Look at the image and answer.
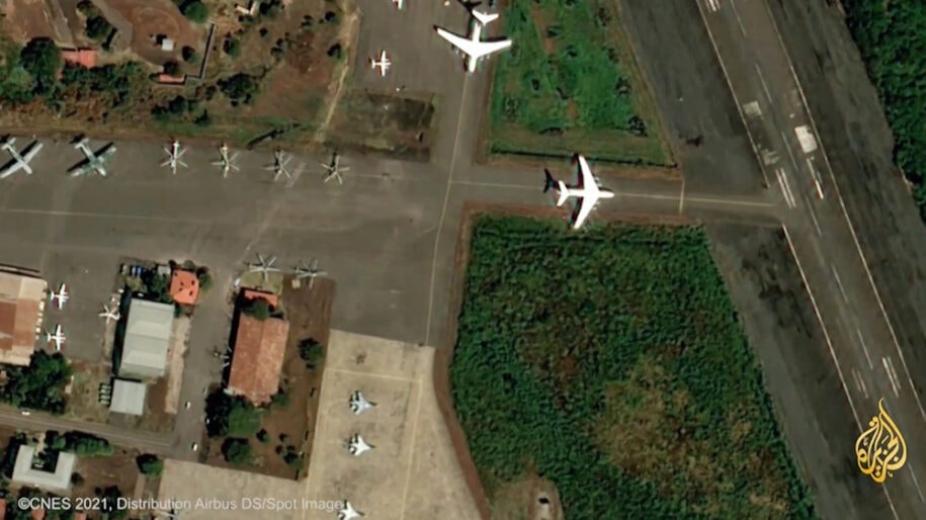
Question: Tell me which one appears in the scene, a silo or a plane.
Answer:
plane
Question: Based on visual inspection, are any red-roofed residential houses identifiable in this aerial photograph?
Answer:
Yes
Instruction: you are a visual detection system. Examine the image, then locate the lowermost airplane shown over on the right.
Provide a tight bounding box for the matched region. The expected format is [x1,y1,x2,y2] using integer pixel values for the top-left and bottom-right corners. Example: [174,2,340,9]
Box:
[557,155,616,230]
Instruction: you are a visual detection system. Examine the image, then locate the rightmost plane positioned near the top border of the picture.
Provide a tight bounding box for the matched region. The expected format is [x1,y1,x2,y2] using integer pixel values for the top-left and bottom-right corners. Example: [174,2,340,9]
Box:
[439,12,511,74]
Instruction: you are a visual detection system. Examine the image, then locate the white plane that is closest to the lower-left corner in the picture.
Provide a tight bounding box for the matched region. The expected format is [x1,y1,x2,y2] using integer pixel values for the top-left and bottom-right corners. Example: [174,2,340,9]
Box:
[48,325,67,351]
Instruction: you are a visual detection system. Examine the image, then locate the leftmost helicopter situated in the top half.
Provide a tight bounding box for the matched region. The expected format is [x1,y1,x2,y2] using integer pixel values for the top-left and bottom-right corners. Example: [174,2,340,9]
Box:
[160,138,188,175]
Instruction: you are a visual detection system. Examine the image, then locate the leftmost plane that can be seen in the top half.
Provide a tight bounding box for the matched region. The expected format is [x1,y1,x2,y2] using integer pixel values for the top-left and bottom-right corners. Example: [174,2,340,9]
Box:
[0,137,43,178]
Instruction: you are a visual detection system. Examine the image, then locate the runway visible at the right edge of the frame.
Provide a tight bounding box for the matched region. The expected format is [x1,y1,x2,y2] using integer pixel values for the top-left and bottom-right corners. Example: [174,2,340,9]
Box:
[696,0,926,520]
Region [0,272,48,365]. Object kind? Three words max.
hangar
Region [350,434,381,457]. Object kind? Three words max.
airplane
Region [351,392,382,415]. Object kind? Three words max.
airplane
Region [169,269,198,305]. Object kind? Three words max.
house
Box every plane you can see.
[71,138,117,177]
[373,50,391,76]
[0,137,43,178]
[338,501,369,520]
[557,155,616,230]
[351,392,382,415]
[48,325,67,351]
[51,284,70,309]
[397,0,405,10]
[350,434,381,457]
[439,12,511,74]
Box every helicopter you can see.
[103,300,119,325]
[295,259,329,289]
[211,142,240,179]
[160,138,188,175]
[322,151,351,184]
[245,254,280,284]
[265,148,291,183]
